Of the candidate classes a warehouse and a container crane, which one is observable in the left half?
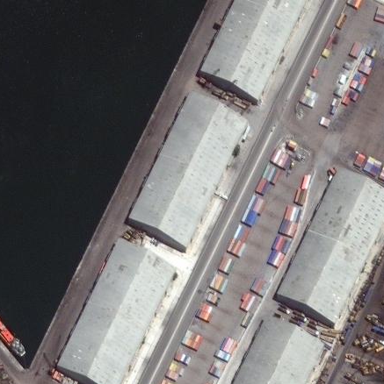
warehouse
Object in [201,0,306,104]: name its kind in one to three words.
building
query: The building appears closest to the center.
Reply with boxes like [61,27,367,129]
[128,93,248,252]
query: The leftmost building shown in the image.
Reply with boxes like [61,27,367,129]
[57,239,177,384]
